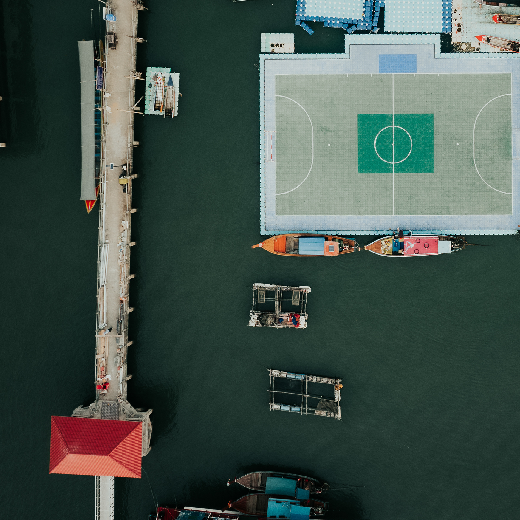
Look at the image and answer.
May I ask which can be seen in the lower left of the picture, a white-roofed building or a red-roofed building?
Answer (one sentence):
Looking in the lower left of the picture, you will find a red-roofed building.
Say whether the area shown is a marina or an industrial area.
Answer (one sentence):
What you see here is a marina.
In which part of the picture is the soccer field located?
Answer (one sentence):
The soccer field appears toward the top right of the photo.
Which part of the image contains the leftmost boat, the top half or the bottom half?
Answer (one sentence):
Seen from above, the leftmost boat lies in the top half of the view.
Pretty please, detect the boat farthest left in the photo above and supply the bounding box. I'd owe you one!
[78,38,101,214]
